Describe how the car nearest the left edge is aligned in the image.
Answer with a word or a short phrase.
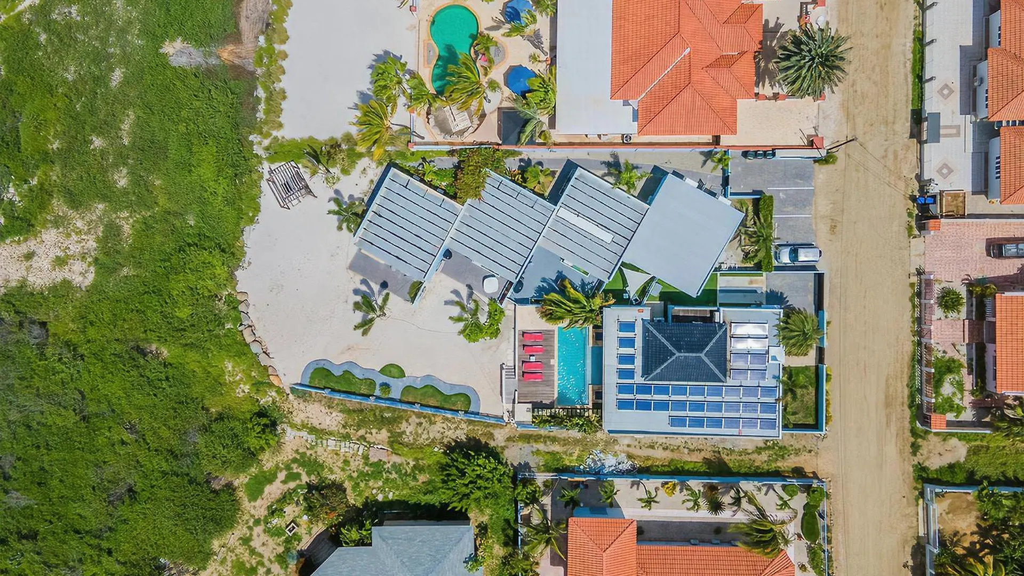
horizontally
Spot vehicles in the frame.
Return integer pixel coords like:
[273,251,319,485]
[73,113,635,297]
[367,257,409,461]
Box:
[772,243,822,267]
[984,236,1024,260]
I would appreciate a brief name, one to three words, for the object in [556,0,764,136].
house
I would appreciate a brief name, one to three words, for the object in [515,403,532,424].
shed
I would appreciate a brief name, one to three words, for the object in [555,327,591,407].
swimming pool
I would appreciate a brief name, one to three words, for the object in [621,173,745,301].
house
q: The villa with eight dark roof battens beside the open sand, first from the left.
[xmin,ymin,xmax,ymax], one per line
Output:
[354,167,464,303]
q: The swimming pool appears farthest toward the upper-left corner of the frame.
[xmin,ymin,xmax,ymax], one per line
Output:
[423,1,508,102]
